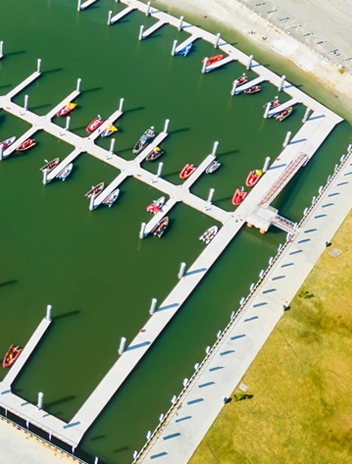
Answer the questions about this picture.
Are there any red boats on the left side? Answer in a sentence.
Yes, you'll find a red boat on the left side.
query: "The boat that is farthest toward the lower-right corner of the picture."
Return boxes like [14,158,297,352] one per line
[197,225,219,244]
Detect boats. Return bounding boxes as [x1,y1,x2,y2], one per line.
[146,146,165,161]
[262,101,281,109]
[245,168,265,187]
[176,41,194,56]
[3,345,22,367]
[38,158,59,173]
[152,216,171,238]
[85,114,106,132]
[16,139,35,152]
[273,107,293,122]
[55,162,72,182]
[100,188,119,209]
[233,73,250,86]
[233,186,249,204]
[205,158,223,173]
[101,122,119,136]
[180,162,197,178]
[197,225,219,244]
[143,195,165,215]
[83,183,105,199]
[135,123,159,150]
[0,137,16,148]
[57,100,78,116]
